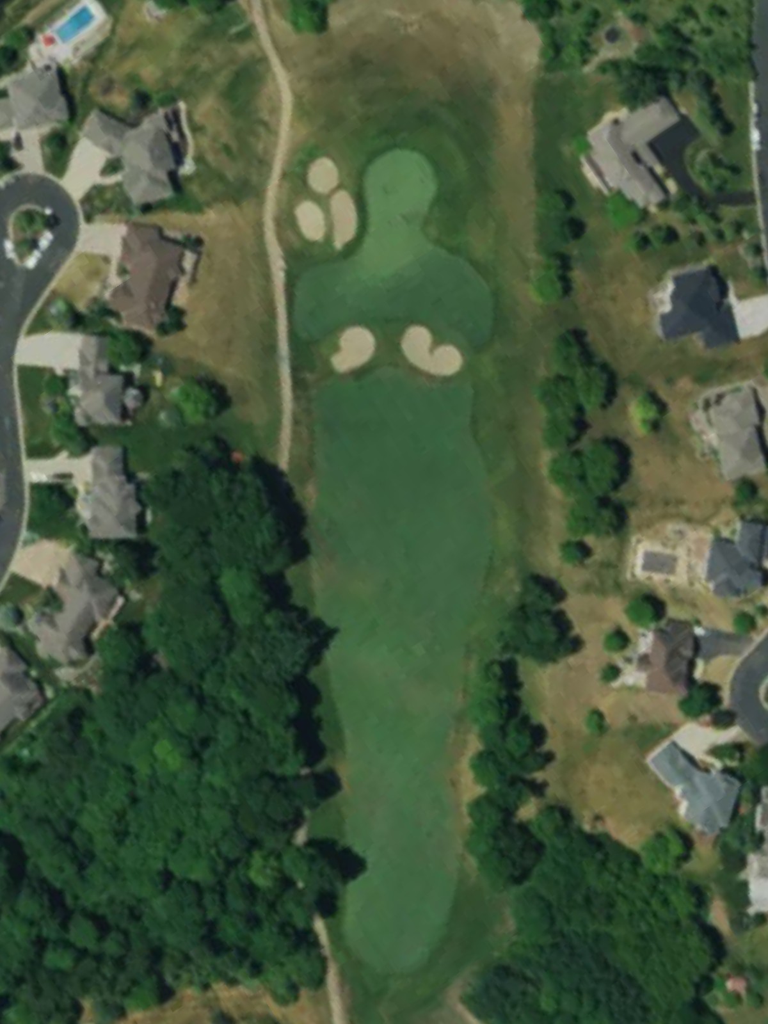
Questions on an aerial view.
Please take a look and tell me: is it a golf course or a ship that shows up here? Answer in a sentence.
The image shows a golf course.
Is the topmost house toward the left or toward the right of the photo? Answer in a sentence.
The topmost house appears in the left half of the scene.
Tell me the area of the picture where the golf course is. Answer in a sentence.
The golf course is in the center part of the image.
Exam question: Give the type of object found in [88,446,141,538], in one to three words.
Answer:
house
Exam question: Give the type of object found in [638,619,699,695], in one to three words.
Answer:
house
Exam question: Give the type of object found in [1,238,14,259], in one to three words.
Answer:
vehicle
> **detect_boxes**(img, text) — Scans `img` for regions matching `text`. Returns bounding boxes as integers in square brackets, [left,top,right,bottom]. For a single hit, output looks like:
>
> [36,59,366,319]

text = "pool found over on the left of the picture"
[53,2,98,46]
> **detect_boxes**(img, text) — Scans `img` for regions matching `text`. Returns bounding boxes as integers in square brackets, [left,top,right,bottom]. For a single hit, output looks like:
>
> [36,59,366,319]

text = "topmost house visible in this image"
[0,66,67,131]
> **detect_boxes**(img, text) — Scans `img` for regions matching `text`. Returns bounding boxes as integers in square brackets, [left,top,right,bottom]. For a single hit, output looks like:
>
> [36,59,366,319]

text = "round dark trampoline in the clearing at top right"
[604,27,620,43]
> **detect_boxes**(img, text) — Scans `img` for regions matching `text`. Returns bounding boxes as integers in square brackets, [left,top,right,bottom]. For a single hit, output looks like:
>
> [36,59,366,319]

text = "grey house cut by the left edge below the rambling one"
[0,638,44,725]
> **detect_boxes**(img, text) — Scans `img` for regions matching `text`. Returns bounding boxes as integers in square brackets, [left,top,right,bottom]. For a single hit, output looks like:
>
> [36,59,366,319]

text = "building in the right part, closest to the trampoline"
[580,94,680,213]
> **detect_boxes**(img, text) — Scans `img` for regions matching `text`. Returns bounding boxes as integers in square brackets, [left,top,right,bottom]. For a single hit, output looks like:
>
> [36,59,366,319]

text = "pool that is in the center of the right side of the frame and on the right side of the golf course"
[639,548,681,577]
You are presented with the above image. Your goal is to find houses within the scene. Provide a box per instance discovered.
[709,388,768,481]
[652,742,742,835]
[0,638,44,725]
[580,94,680,213]
[88,446,141,538]
[74,334,121,426]
[80,108,180,206]
[660,267,741,349]
[26,548,120,668]
[638,619,699,695]
[106,223,185,330]
[707,520,768,600]
[0,66,67,131]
